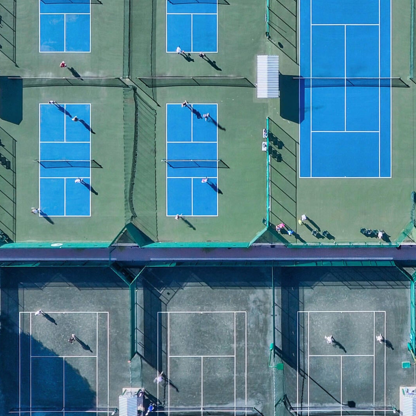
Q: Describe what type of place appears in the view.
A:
sports ground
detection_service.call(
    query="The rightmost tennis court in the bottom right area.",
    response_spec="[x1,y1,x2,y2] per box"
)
[298,311,386,416]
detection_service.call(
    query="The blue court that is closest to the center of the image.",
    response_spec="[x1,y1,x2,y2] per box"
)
[167,103,218,217]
